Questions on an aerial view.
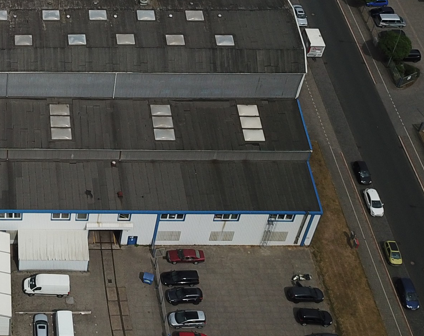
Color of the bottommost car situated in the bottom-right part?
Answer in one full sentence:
The color of the bottommost car situated in the bottom-right part is black.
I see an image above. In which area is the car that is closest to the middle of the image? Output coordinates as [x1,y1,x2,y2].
[166,247,204,264]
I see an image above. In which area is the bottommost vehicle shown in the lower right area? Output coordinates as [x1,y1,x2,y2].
[292,307,334,327]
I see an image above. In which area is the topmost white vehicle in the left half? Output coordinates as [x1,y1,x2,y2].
[23,267,72,293]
